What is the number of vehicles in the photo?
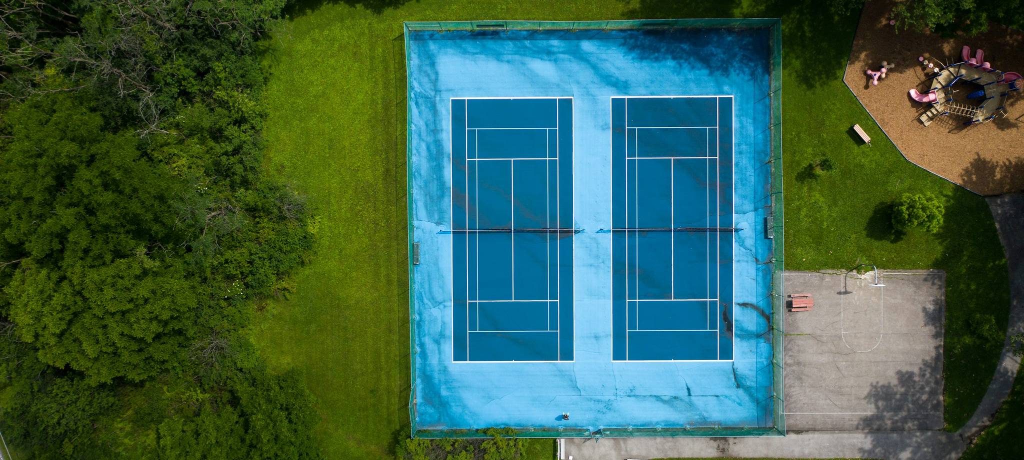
0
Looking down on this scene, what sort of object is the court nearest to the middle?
tennis court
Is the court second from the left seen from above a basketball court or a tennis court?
tennis court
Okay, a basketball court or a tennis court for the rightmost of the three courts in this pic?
basketball court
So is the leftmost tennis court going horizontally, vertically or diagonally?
vertically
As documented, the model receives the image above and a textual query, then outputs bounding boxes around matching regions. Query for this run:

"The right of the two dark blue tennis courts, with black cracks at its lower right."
[610,95,735,362]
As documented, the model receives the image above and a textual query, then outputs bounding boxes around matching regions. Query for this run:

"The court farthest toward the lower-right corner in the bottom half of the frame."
[776,270,945,431]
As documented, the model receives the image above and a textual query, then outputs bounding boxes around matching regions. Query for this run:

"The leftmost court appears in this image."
[451,96,575,362]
